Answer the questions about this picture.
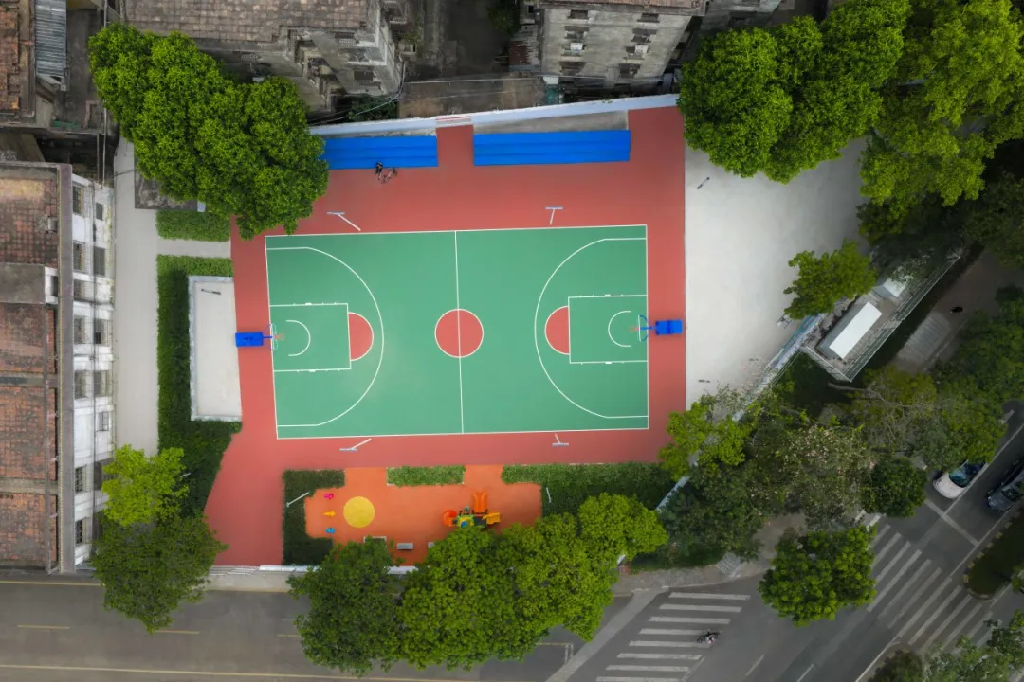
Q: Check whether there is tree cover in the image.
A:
Yes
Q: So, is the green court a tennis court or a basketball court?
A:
basketball court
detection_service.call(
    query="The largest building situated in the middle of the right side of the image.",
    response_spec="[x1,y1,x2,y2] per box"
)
[814,302,881,362]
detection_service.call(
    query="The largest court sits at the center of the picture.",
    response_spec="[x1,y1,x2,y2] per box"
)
[205,106,686,568]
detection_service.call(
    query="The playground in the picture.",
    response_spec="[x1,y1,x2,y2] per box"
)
[305,465,543,567]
